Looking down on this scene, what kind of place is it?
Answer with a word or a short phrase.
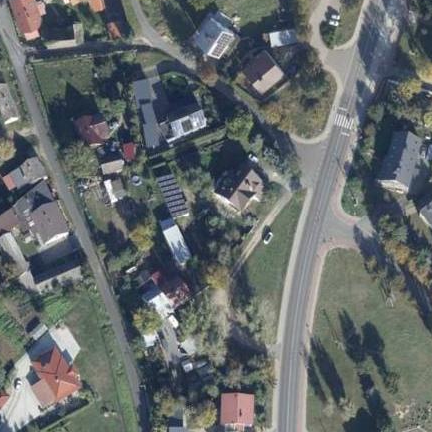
residential area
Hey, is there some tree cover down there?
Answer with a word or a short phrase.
Yes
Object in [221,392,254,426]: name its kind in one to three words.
house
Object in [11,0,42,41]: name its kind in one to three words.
house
